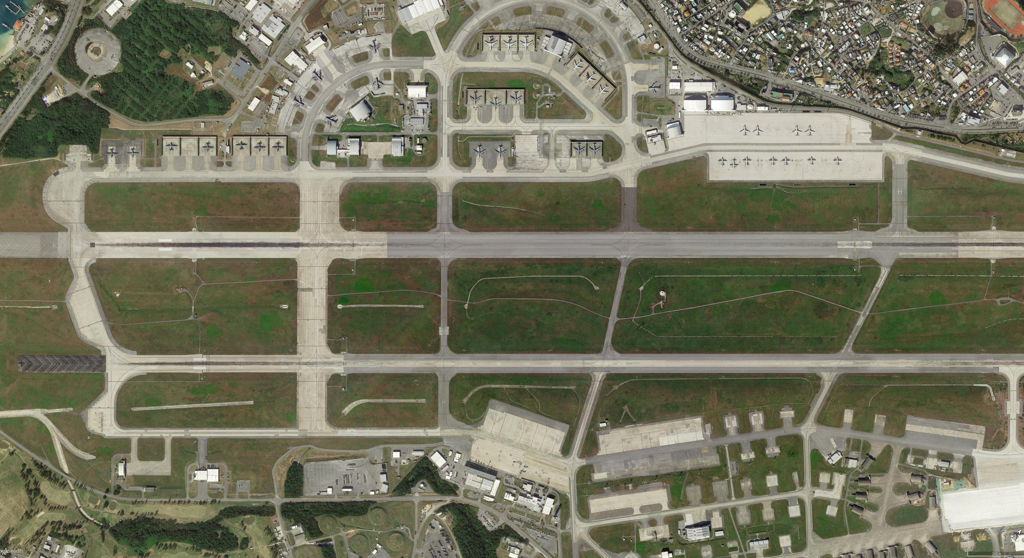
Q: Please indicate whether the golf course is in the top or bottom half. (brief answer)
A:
bottom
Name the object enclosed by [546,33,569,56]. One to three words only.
hangar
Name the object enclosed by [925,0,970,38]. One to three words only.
baseball field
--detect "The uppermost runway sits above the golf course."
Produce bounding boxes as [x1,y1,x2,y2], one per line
[0,232,1024,258]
